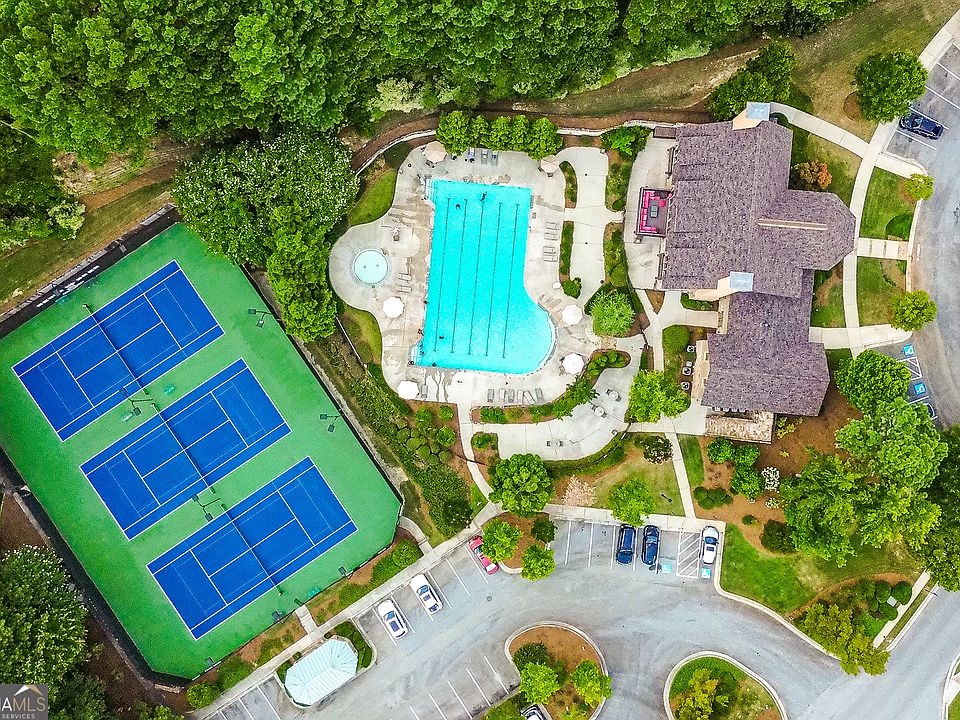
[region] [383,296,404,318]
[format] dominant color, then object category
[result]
white umbrella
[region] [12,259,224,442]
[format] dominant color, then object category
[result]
blue tennis court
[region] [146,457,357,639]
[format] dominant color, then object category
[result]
blue tennis court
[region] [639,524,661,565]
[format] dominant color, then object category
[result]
blue car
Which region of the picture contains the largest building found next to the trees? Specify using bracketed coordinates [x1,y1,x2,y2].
[651,102,857,417]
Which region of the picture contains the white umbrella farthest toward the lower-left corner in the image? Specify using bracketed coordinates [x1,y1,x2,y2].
[397,379,418,400]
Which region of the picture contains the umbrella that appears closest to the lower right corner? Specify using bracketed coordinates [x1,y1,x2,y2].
[562,353,583,373]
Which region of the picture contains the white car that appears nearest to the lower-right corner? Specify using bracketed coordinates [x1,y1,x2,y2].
[697,525,720,564]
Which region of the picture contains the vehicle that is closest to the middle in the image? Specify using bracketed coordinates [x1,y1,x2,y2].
[466,533,502,577]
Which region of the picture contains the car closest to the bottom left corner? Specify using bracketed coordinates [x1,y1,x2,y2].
[375,600,409,640]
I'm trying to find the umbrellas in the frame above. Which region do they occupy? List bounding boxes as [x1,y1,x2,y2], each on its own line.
[397,379,418,400]
[540,157,559,174]
[383,296,404,318]
[562,353,583,373]
[562,305,582,325]
[424,142,444,163]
